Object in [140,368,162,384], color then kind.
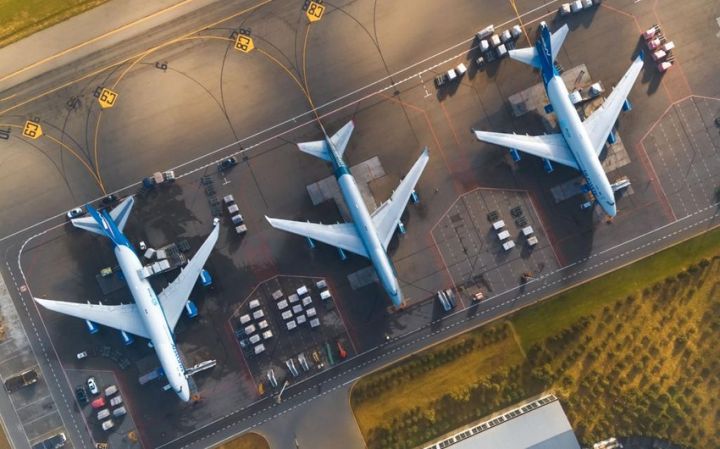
blue vehicle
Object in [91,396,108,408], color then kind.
red vehicle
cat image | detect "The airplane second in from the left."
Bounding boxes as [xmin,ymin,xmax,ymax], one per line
[266,119,430,306]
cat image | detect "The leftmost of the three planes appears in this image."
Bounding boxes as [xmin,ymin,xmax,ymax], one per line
[30,193,216,401]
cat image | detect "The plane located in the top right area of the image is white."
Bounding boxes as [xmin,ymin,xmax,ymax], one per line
[477,22,650,216]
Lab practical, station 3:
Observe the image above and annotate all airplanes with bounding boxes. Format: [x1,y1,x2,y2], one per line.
[477,22,650,216]
[30,193,216,401]
[266,119,430,306]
